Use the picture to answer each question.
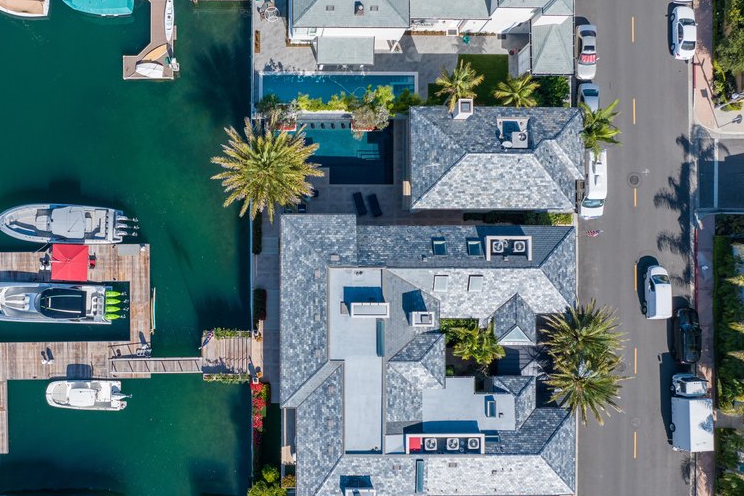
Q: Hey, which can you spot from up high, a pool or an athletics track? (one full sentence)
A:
It is a pool that can be seen here.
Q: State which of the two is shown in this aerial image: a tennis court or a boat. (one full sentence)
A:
It is a boat that can be seen here.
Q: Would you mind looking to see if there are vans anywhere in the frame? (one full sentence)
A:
Yes, a van is visible in the scene.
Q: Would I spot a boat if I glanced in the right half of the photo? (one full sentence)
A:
No, no boat can be made out in the right half of the photo.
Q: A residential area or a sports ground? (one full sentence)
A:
It's a residential area.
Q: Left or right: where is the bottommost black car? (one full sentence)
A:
The bottommost black car appears in the right half of the scene.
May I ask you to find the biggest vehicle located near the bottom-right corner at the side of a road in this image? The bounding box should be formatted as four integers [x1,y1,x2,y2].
[669,372,715,452]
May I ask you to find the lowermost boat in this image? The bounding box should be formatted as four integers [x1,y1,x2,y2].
[45,380,143,408]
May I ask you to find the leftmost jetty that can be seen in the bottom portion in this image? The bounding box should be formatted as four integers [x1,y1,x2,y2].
[0,244,151,454]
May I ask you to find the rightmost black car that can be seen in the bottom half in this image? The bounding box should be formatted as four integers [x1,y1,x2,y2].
[669,308,703,364]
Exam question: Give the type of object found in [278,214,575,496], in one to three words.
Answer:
house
